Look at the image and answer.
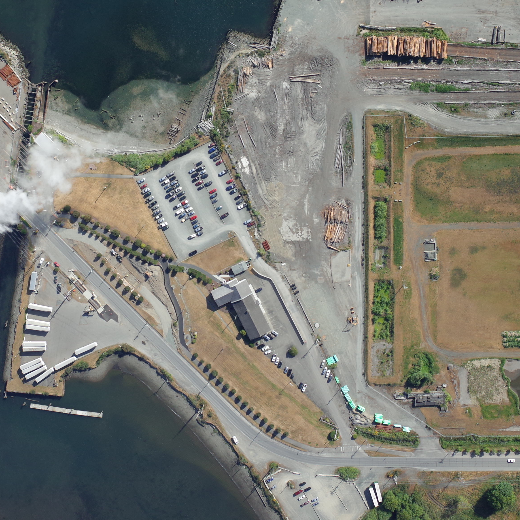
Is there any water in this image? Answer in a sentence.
Yes, water can be seen from above here.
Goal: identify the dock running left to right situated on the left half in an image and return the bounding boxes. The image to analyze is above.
[30,404,102,418]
